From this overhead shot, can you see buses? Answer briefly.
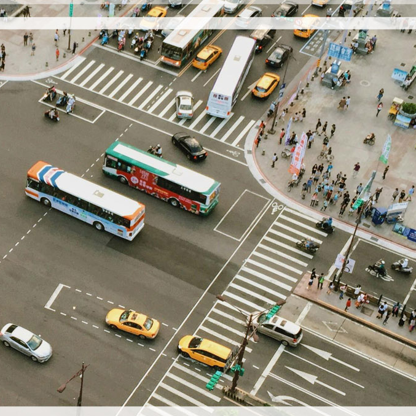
Yes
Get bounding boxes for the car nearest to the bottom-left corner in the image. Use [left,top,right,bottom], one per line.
[0,325,54,364]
